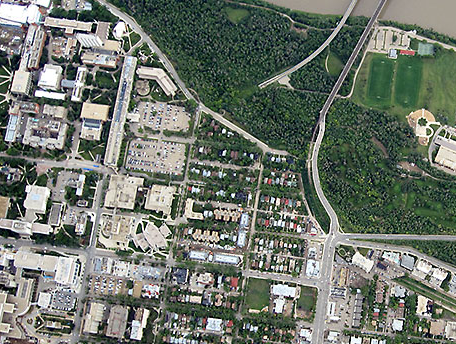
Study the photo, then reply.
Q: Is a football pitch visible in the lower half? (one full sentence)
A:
No, the scene shows no football pitch in the lower half.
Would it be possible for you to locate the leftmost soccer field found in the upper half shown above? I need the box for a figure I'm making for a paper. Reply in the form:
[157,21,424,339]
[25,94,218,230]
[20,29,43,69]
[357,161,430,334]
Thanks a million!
[368,58,393,98]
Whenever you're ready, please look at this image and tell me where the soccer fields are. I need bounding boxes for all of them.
[368,58,393,98]
[394,61,422,108]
